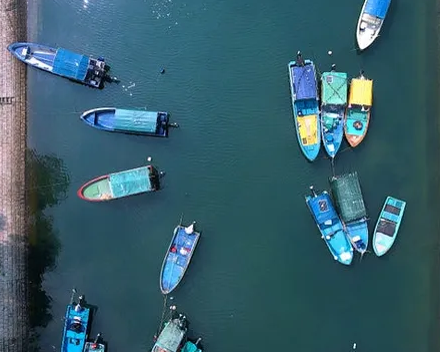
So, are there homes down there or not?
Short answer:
No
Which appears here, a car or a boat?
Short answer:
boat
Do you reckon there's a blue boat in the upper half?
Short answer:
Yes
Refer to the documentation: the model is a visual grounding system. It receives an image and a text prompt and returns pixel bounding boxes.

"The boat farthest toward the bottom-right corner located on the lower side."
[374,197,406,257]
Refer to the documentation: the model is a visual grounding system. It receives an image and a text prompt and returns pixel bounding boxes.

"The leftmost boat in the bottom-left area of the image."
[63,289,89,352]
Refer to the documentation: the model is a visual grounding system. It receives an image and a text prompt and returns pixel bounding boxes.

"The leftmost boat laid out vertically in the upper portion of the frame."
[290,53,322,162]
